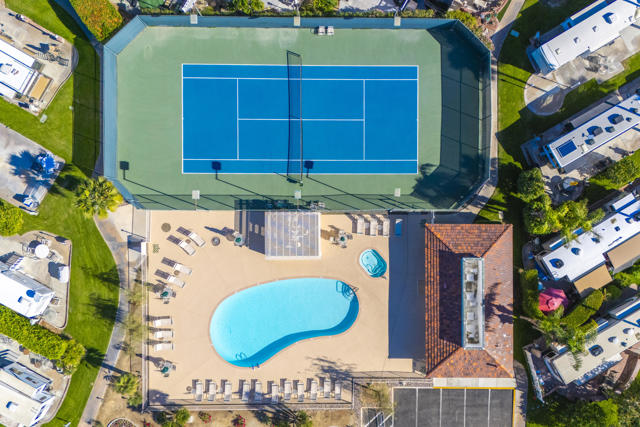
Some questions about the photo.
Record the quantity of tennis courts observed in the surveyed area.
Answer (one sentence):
There is 1 tennis court in the image.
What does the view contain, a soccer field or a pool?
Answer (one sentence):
This aerial view contains a pool.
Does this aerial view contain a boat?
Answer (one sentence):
No, I find no boat anywhere in the image.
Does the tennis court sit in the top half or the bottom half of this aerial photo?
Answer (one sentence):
It is in the top half that the tennis court appears.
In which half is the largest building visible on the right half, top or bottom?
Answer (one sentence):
The largest building visible on the right half is in the bottom half of the image.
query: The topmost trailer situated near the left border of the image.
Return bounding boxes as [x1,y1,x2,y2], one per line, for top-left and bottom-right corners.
[0,36,51,101]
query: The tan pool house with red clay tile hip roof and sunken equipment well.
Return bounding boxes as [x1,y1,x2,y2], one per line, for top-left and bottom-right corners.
[424,223,514,379]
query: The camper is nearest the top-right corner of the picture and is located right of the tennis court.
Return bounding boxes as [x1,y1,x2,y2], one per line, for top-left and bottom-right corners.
[529,0,640,76]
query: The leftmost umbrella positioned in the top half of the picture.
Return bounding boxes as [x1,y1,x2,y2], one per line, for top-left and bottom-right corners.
[44,157,62,172]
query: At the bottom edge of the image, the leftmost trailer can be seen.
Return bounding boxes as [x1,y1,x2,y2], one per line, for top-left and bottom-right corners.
[0,354,59,426]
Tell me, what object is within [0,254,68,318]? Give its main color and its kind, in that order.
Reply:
white trailer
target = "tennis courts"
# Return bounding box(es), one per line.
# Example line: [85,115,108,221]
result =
[114,26,482,209]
